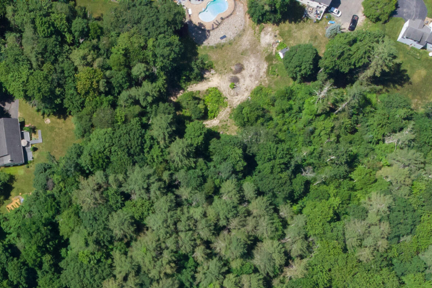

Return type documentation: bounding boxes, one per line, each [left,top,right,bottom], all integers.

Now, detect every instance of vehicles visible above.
[349,14,359,31]
[330,6,342,17]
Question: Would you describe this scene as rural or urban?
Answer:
rural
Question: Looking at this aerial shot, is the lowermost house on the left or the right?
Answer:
left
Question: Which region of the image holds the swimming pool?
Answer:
top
